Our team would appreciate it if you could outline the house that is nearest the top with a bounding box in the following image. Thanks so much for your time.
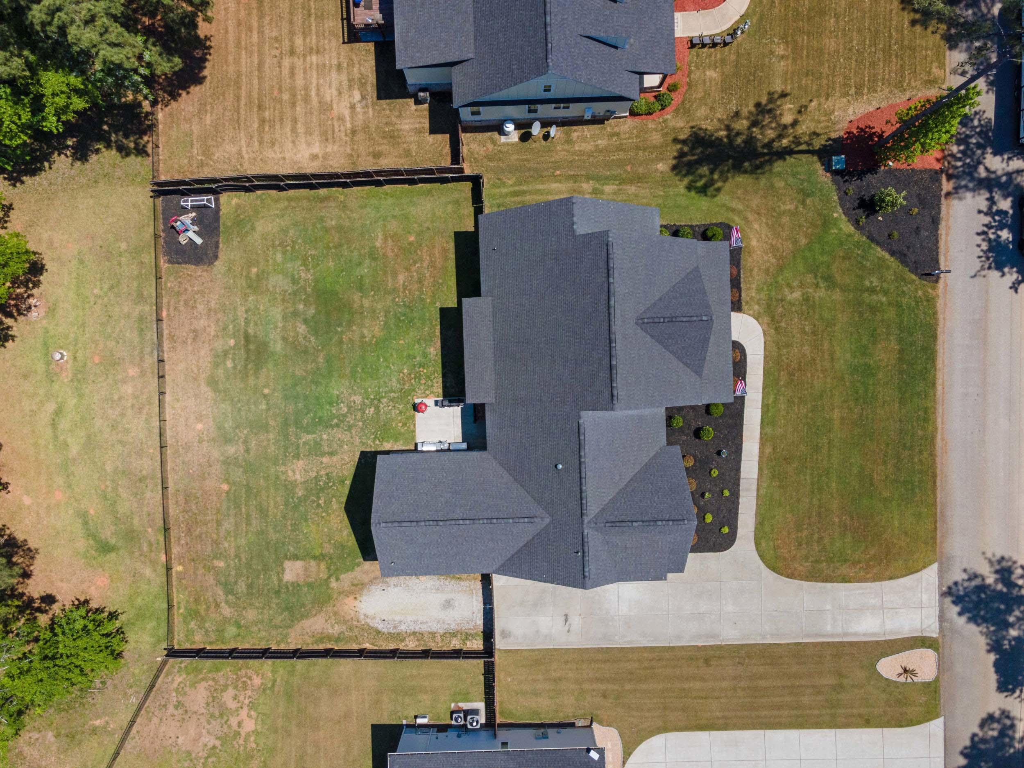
[393,0,676,125]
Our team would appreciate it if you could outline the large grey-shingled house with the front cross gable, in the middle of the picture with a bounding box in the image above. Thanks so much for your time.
[372,196,735,590]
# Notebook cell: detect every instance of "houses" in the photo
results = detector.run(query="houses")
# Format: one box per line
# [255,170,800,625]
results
[393,0,676,125]
[372,196,735,590]
[385,724,608,768]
